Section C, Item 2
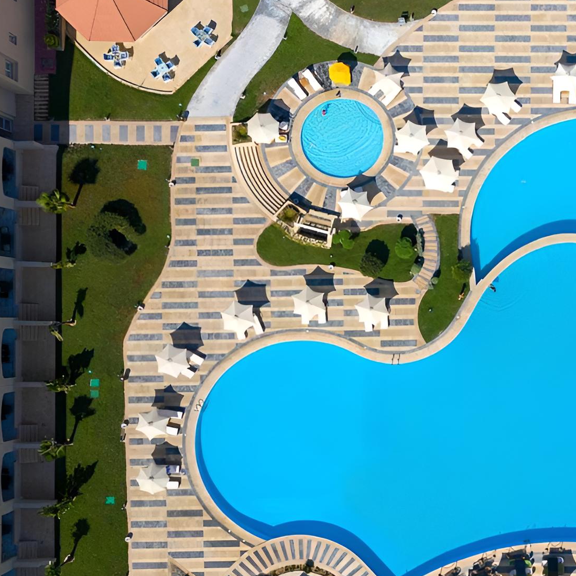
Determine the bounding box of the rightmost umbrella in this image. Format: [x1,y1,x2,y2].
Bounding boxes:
[548,56,576,95]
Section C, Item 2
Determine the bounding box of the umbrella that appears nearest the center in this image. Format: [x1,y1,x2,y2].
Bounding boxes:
[289,282,329,320]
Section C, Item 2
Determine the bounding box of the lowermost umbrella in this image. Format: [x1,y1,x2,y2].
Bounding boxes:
[139,457,174,496]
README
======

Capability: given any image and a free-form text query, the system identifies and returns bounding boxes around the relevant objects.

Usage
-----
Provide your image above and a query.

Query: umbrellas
[354,287,389,329]
[421,156,460,190]
[337,183,372,220]
[394,118,431,156]
[289,282,329,320]
[481,77,519,114]
[136,402,171,440]
[548,56,576,95]
[221,295,257,336]
[139,457,174,496]
[443,114,482,151]
[156,341,193,376]
[370,60,406,100]
[243,107,284,149]
[329,64,353,88]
